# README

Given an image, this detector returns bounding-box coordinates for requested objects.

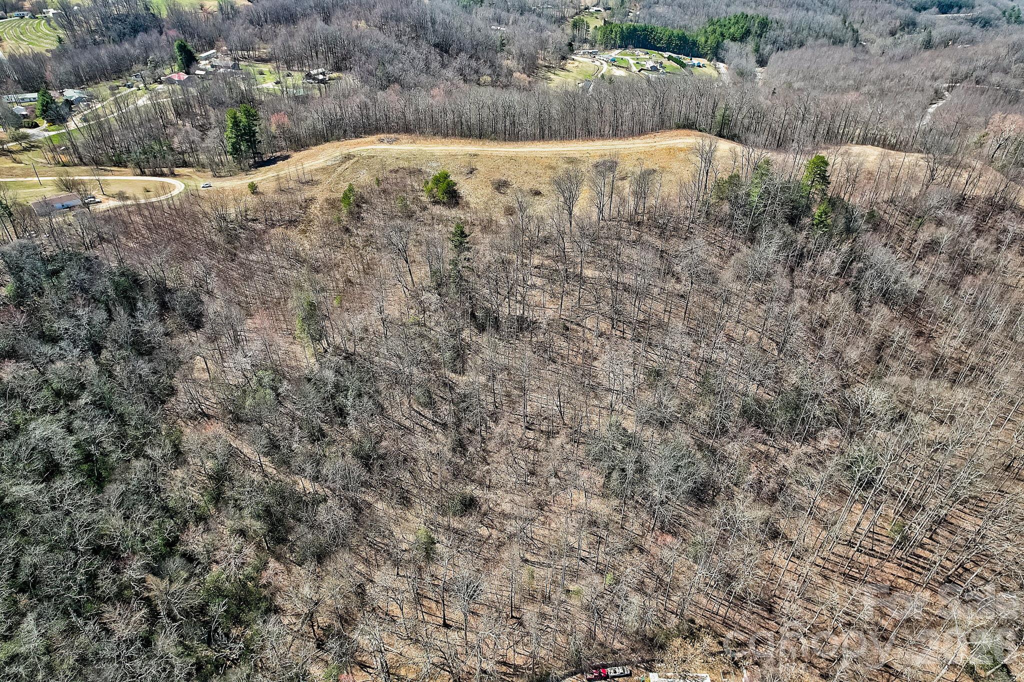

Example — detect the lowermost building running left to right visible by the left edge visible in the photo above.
[26,189,83,215]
